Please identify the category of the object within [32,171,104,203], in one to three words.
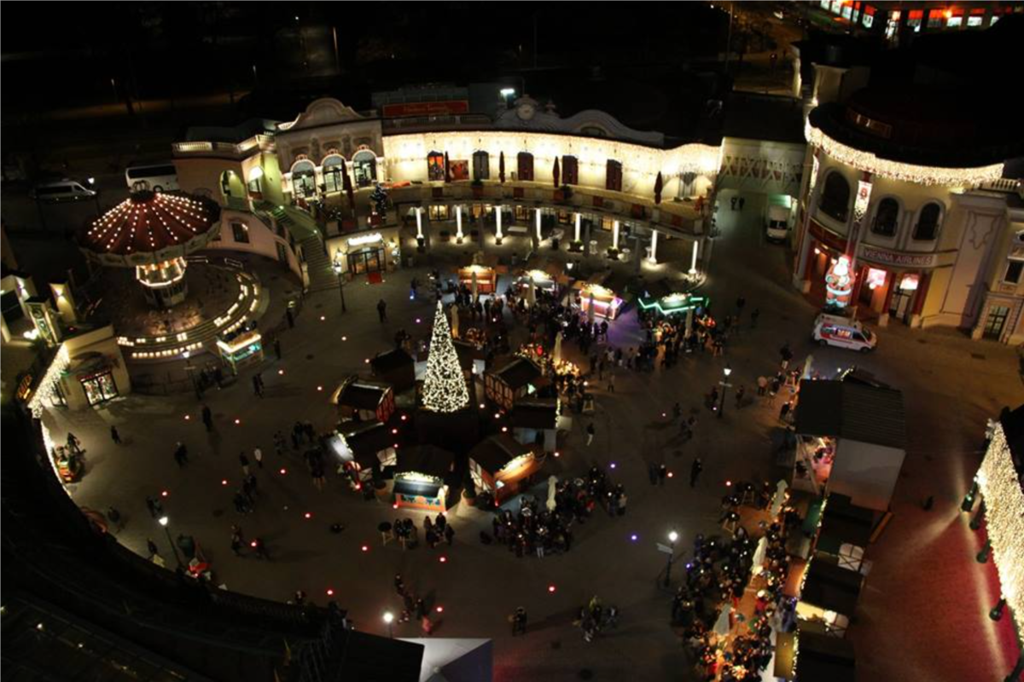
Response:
van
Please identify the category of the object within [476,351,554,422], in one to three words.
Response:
shed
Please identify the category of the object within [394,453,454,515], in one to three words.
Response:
shed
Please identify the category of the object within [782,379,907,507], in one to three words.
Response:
building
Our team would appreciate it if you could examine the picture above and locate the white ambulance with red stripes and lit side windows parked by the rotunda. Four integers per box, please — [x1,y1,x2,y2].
[812,309,888,354]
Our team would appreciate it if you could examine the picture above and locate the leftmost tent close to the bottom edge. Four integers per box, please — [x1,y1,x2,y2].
[401,640,493,682]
